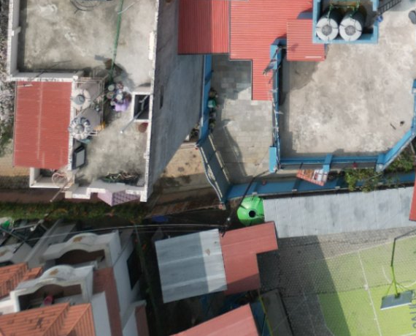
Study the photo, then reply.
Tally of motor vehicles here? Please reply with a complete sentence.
There are no motor vehicles in this view.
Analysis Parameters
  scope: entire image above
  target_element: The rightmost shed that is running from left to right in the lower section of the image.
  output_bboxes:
[262,184,412,236]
